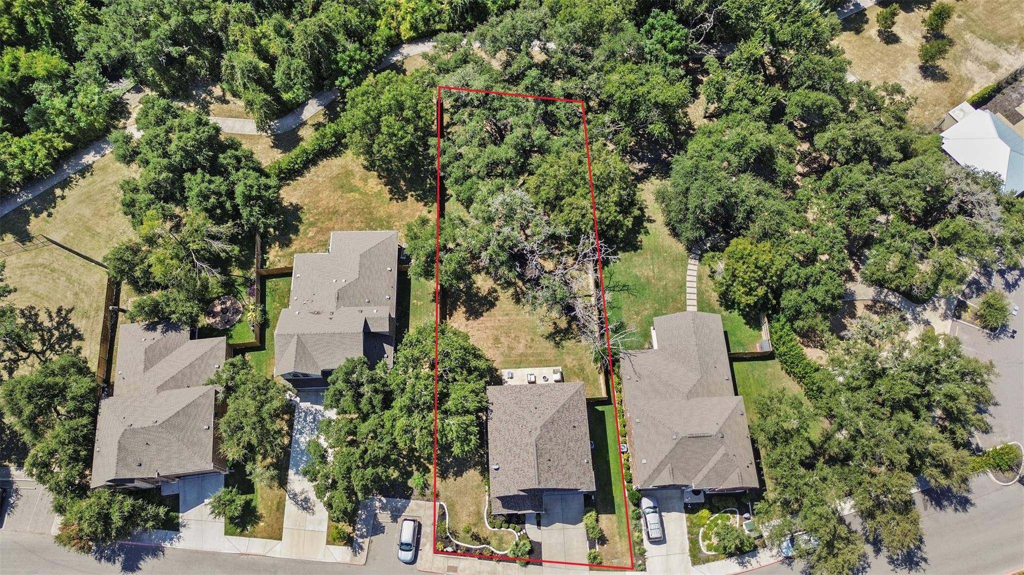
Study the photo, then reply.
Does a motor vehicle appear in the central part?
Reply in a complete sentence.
No, I can find no motor vehicle in the central part.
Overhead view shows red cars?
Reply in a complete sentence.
No, I find no red car anywhere in the image.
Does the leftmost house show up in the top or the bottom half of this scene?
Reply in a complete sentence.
The bottom half of the photo is where the leftmost house is.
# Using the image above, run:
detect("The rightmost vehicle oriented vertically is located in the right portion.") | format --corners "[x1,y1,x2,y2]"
[638,498,664,544]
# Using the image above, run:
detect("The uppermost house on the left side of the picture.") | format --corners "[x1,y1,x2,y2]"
[274,229,398,391]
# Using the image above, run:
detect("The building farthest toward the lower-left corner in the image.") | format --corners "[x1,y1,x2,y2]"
[91,322,231,493]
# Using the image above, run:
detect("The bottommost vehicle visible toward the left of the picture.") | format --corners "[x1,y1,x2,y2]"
[396,517,420,566]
